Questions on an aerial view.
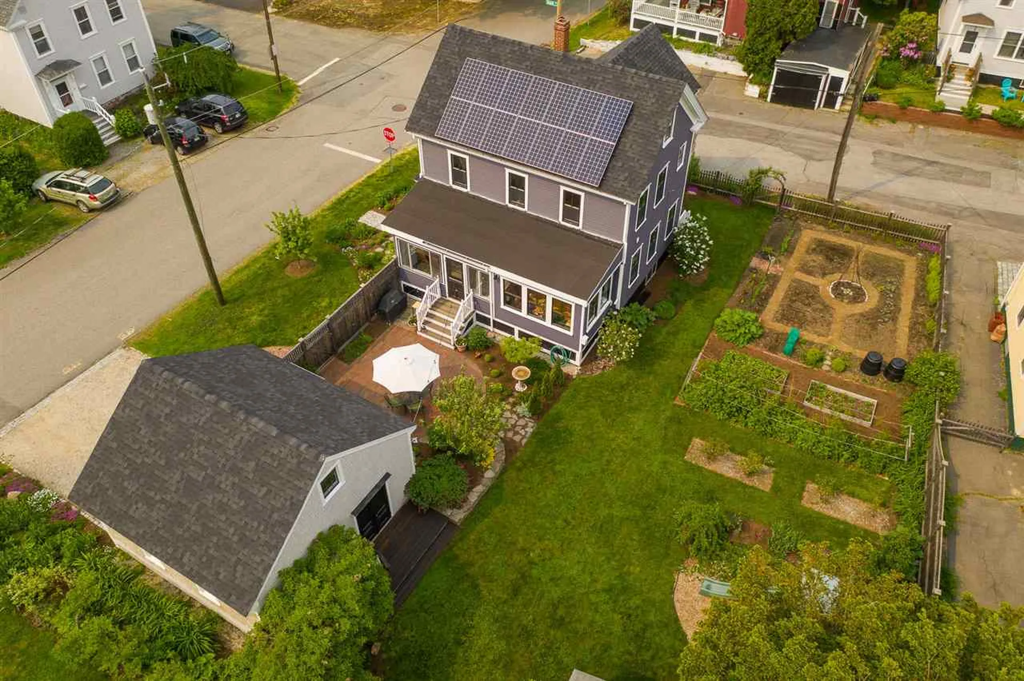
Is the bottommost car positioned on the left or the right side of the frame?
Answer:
left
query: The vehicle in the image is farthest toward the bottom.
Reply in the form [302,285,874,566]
[22,161,122,213]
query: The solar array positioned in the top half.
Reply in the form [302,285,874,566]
[435,55,633,184]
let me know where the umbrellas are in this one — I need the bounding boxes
[367,343,446,399]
